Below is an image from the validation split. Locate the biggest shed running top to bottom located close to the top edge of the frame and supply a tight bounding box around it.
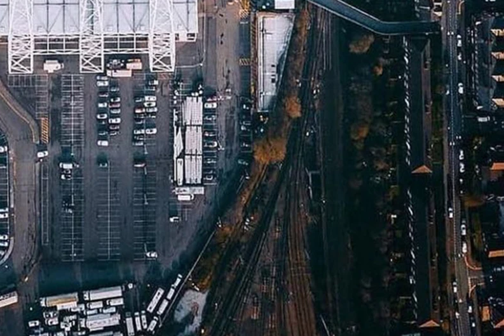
[255,9,293,113]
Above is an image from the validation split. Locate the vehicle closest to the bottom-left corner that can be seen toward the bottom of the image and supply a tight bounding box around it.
[0,291,19,307]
